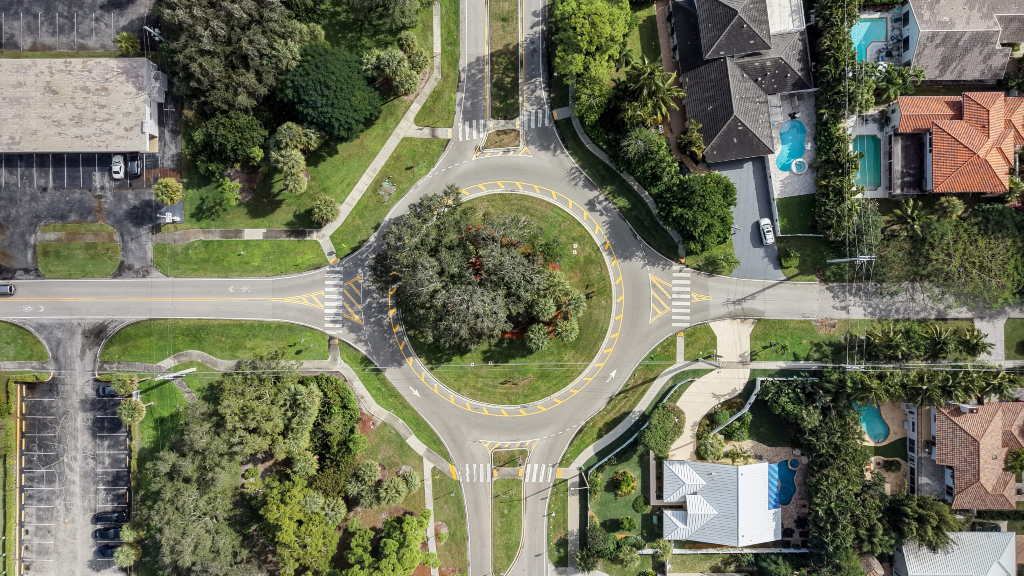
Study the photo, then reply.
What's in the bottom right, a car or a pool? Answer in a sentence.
It is a pool that can be seen in the bottom right.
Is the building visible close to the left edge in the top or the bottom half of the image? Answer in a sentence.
Seen from above, the building visible close to the left edge lies in the top half of the view.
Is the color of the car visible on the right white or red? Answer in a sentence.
The color of the car visible on the right is white.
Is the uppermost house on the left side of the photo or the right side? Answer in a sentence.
The uppermost house is on the right side of the image.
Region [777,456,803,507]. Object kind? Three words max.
swimming pool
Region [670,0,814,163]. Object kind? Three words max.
house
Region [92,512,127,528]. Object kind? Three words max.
car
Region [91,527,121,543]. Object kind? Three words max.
car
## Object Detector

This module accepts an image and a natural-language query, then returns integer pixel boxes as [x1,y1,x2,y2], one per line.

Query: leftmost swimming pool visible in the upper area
[775,119,809,174]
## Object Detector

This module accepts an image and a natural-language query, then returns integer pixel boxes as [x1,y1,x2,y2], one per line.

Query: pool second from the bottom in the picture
[852,400,891,444]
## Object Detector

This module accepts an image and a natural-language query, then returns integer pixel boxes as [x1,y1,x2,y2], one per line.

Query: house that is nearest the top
[902,0,1024,80]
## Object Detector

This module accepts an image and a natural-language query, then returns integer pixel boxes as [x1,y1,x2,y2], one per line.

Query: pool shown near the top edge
[846,17,887,64]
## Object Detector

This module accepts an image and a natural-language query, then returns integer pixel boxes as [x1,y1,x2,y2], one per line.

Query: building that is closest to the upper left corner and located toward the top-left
[0,57,167,153]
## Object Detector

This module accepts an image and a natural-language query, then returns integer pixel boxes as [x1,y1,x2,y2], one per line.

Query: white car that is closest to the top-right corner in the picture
[758,215,778,246]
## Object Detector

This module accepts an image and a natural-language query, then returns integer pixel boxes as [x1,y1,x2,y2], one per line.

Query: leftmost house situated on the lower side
[662,459,782,547]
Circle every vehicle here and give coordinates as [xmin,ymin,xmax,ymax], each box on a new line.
[94,546,120,560]
[124,153,141,176]
[91,527,121,543]
[758,215,778,246]
[94,385,119,399]
[0,283,14,296]
[107,153,124,180]
[92,512,127,528]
